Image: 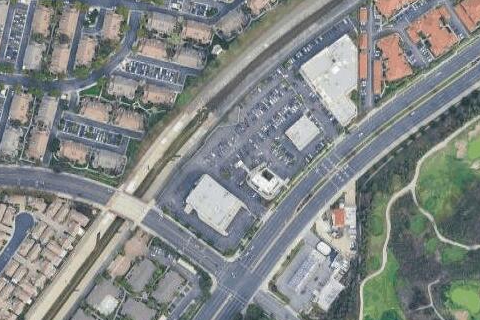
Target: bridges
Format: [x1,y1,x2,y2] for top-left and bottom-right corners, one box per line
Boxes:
[106,186,154,226]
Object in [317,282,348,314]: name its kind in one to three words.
building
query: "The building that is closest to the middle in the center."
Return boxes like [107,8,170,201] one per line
[252,168,282,198]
